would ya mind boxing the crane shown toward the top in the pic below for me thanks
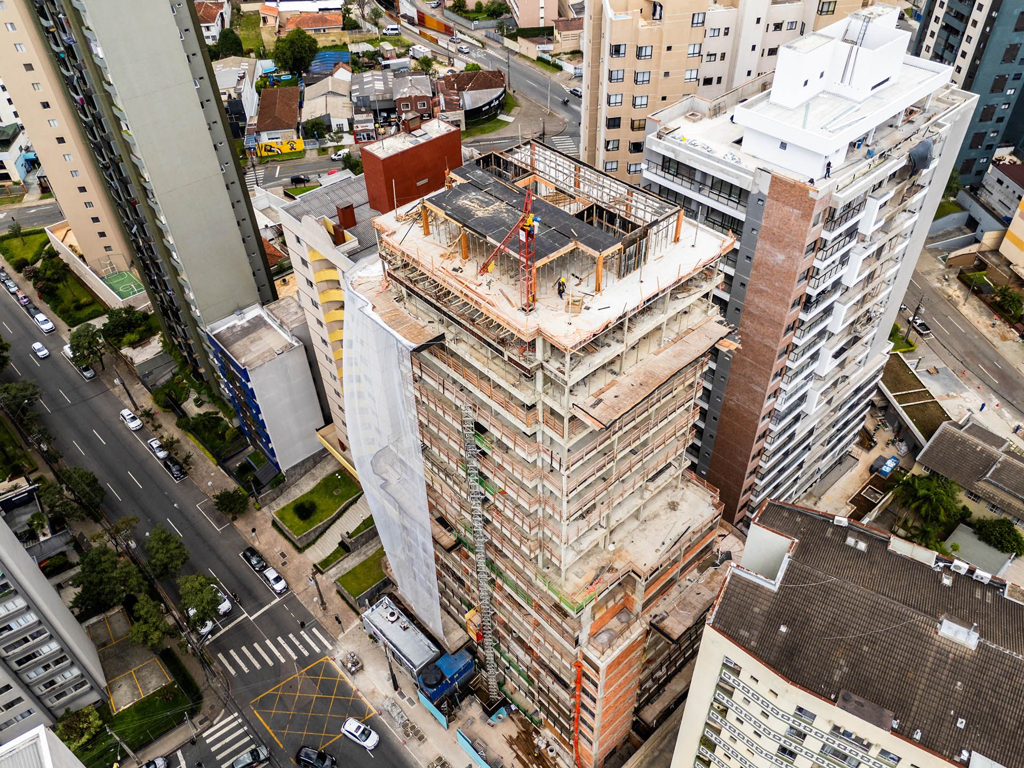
[474,189,548,319]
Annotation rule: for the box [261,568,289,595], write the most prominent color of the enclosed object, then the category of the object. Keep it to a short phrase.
white car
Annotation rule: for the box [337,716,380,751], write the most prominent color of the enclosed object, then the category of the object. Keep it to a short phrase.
white car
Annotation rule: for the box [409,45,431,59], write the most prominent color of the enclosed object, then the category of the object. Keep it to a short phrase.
white vehicle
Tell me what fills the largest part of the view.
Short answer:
buildings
